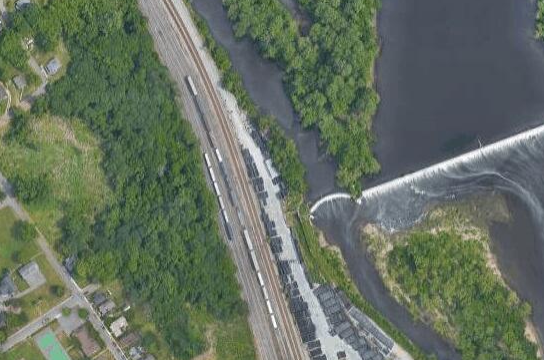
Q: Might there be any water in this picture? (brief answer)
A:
Yes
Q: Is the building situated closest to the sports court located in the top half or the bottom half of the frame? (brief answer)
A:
bottom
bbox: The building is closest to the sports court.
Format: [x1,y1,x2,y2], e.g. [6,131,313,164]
[76,330,101,358]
